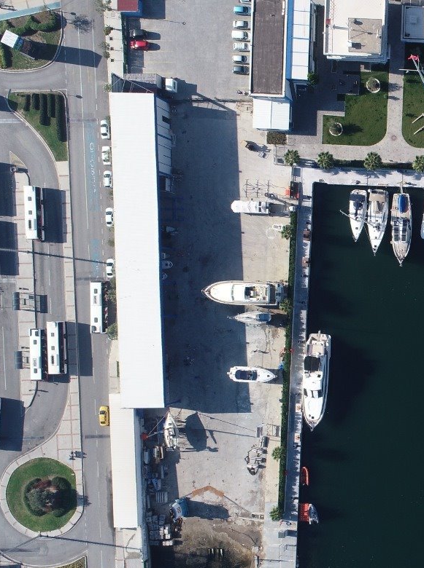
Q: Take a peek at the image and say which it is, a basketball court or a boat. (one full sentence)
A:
There is a boat in the scene.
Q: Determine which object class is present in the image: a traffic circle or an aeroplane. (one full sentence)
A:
Looking from above, you can make out a traffic circle.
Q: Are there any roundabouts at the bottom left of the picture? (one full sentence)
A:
Yes, there is a roundabout at the bottom left of the picture.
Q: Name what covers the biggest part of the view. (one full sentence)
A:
For the most part, this view shows paved ground.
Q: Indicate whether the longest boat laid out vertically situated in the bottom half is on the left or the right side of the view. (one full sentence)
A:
It is on the right.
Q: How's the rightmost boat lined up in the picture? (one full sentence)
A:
Seen from above, the rightmost boat lies vertically.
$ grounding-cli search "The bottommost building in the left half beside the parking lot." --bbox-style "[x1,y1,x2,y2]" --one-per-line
[109,92,177,409]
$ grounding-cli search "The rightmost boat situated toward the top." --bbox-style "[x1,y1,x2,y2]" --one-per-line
[385,181,413,266]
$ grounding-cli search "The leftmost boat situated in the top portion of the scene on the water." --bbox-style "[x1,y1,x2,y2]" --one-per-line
[339,187,367,241]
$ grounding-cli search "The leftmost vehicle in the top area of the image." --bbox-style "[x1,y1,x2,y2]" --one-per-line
[26,187,46,240]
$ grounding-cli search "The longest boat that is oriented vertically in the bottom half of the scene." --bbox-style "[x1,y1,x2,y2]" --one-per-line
[300,326,332,430]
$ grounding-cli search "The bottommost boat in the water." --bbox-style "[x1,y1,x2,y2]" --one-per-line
[308,503,320,527]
